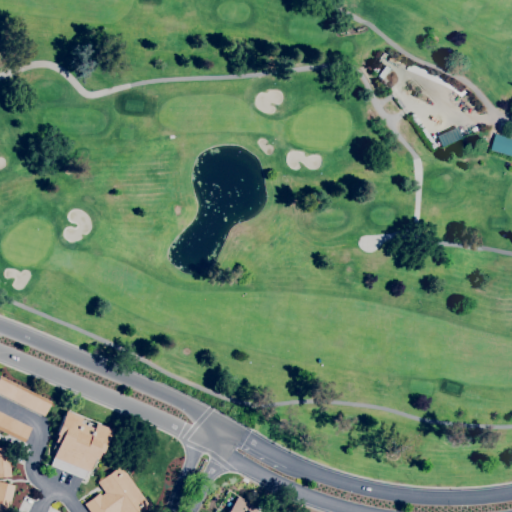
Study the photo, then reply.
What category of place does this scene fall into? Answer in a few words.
golf course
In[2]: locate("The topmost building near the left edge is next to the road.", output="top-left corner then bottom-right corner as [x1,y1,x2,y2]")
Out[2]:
[0,376,54,417]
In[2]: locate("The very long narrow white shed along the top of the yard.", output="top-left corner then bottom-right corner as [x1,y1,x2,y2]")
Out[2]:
[408,64,466,95]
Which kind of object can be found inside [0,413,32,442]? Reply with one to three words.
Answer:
building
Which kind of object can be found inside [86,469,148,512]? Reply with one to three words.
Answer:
house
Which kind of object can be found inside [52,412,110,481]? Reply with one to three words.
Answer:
house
